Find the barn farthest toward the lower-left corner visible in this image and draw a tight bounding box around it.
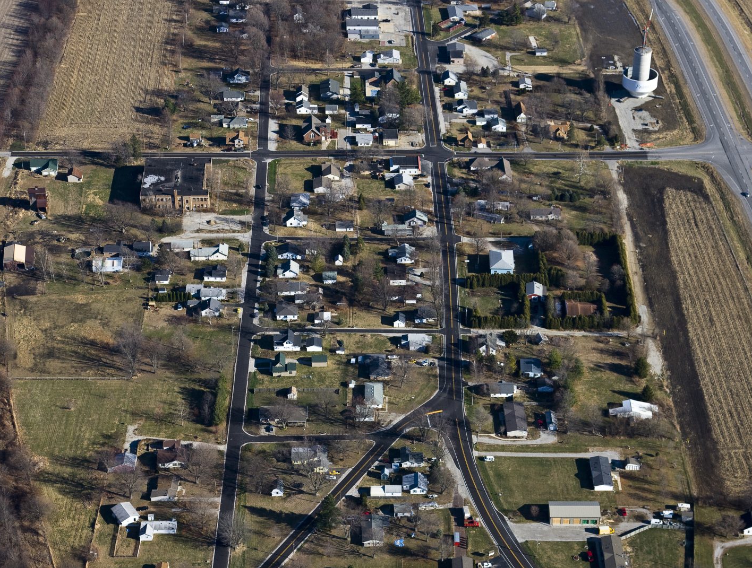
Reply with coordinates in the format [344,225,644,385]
[113,502,139,527]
